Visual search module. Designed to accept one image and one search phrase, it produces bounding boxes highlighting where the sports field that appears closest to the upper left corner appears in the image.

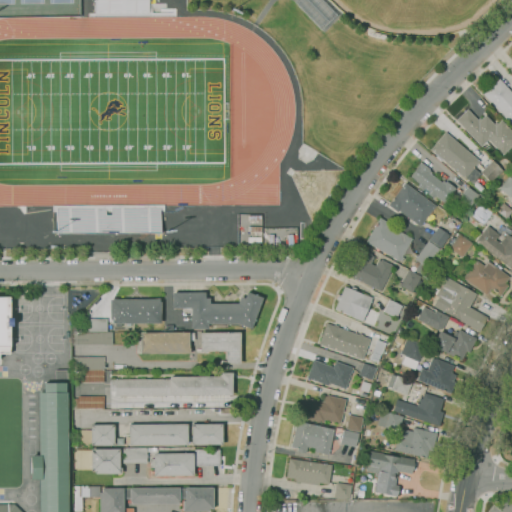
[0,39,230,184]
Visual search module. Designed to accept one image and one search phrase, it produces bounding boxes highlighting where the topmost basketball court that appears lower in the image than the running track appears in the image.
[19,296,66,322]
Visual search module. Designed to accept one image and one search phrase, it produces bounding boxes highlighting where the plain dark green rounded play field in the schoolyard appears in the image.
[0,378,23,488]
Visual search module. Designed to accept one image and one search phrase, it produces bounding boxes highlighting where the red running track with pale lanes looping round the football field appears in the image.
[0,17,299,205]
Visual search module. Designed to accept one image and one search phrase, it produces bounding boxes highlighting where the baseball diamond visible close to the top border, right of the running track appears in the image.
[332,0,494,36]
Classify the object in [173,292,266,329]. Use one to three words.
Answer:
building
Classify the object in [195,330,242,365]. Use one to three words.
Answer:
building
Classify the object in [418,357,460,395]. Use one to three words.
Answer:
house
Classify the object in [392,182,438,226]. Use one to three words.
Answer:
house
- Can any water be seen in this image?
No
